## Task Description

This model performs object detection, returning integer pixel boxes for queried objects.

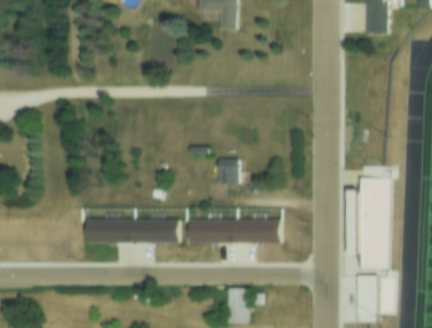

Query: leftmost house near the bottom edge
[228,288,254,324]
